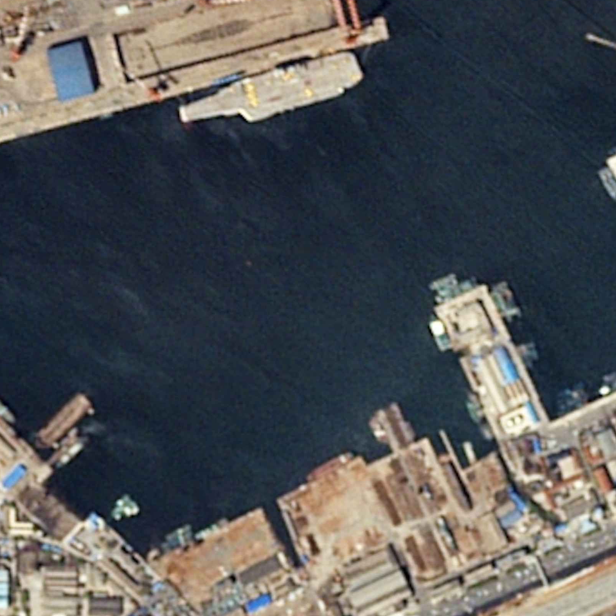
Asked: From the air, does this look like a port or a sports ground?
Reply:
port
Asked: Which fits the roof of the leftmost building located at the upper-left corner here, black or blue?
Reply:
blue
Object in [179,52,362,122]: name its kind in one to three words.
ship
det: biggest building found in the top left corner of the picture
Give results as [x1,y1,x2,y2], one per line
[46,38,95,102]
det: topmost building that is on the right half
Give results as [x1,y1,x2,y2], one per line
[458,302,491,336]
